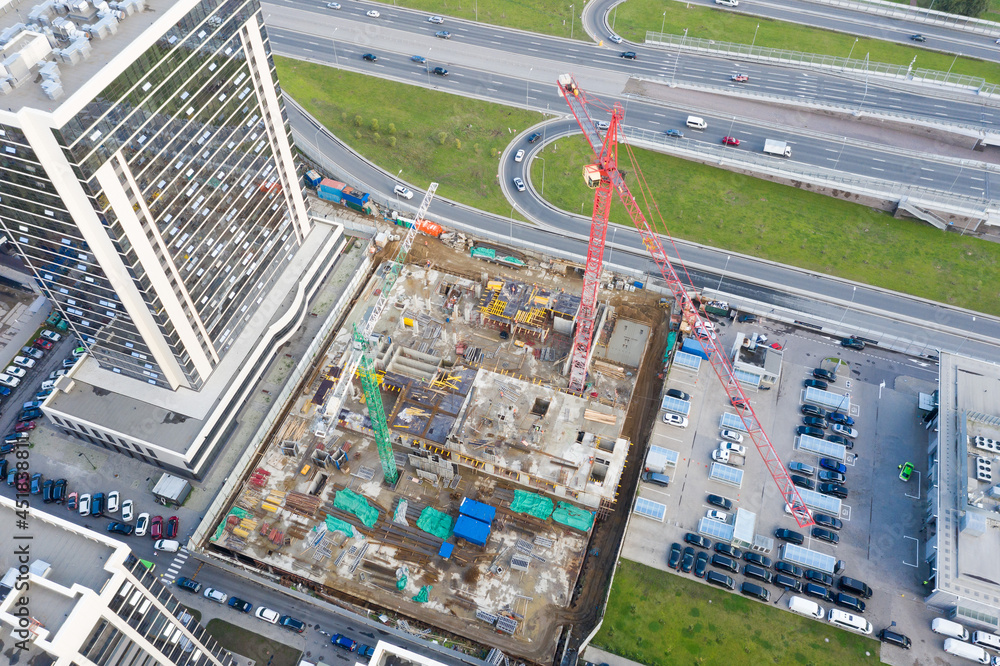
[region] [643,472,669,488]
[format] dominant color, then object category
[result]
blue car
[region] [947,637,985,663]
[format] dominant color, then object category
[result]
white vehicle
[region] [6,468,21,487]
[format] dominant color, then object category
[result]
blue car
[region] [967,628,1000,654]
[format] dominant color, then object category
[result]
white vehicle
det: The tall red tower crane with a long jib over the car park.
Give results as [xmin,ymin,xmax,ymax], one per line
[553,82,815,530]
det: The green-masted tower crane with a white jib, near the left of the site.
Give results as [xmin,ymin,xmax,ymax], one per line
[318,187,438,485]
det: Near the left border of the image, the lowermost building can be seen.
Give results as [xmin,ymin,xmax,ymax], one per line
[0,494,214,666]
